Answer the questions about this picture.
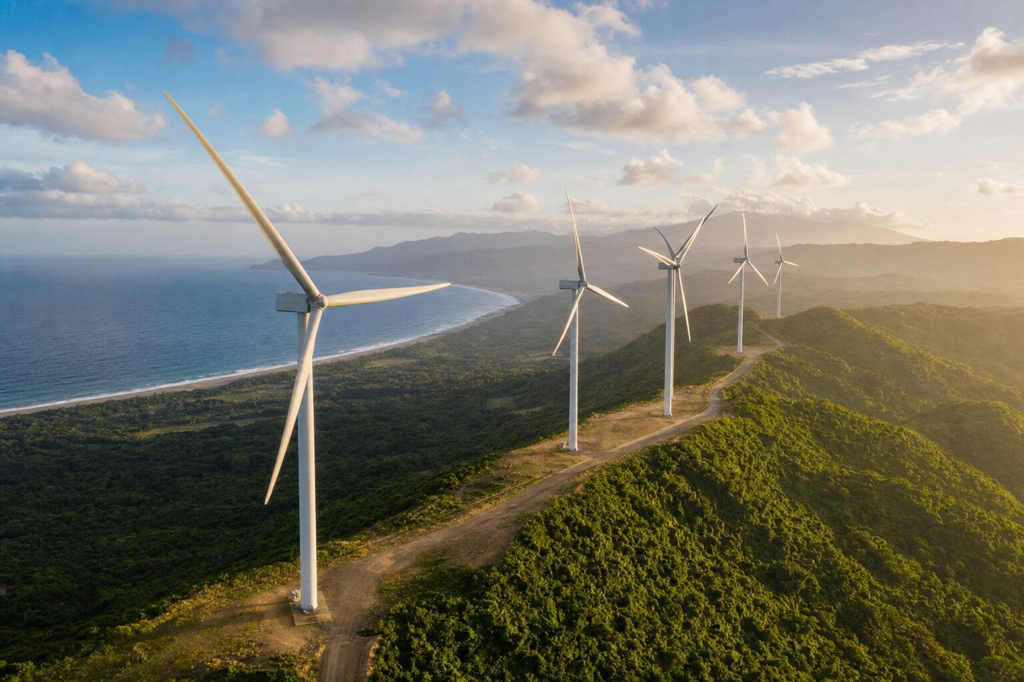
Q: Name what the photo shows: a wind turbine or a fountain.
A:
wind turbine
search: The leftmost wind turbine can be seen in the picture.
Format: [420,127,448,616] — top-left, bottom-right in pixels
[158,89,448,615]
